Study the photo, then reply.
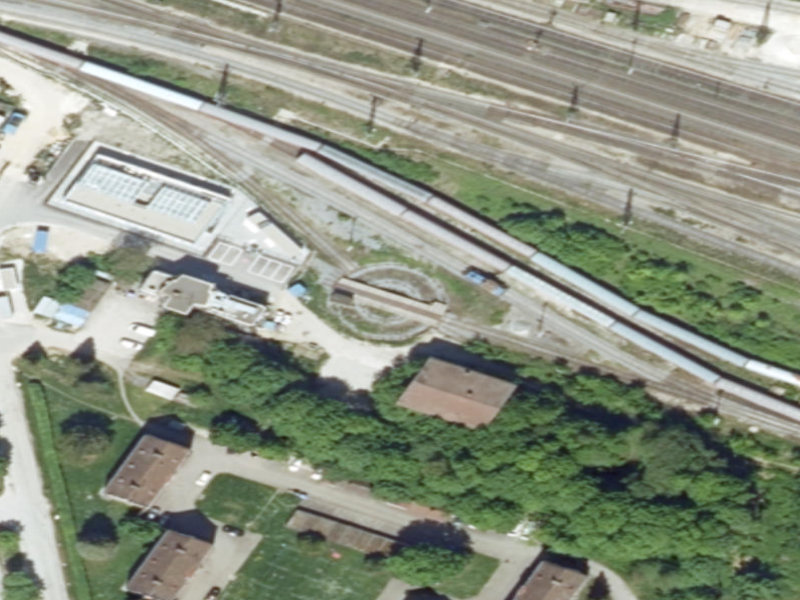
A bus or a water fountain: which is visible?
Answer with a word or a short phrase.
bus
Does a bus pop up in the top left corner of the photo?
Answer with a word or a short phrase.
Yes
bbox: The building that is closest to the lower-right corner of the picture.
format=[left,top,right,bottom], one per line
[517,560,589,600]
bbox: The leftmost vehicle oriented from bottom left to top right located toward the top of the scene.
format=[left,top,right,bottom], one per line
[2,109,23,135]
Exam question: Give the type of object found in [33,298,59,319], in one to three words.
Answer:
shed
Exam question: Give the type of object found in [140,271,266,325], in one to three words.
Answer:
building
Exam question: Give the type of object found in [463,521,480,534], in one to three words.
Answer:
vehicle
